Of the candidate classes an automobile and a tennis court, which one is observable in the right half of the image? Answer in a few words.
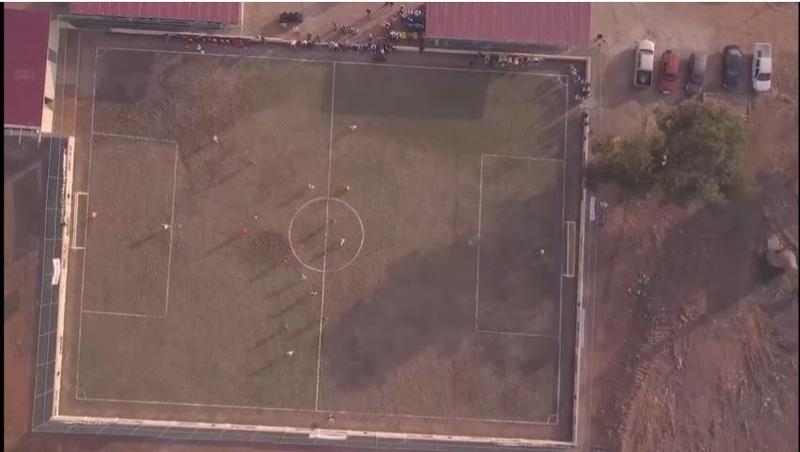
automobile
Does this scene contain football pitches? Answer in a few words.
Yes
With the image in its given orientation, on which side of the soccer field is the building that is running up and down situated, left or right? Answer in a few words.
left of it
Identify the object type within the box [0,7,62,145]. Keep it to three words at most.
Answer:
building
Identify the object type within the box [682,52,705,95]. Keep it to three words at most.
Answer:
car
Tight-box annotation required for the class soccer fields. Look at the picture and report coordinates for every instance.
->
[57,33,585,440]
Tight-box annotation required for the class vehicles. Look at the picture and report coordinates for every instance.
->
[630,41,655,91]
[748,42,773,94]
[719,44,744,91]
[682,52,705,95]
[655,52,678,94]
